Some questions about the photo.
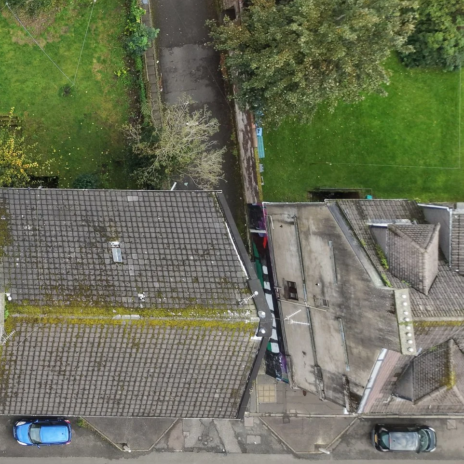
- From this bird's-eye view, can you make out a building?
Yes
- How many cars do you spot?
2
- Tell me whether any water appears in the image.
No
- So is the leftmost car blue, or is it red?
blue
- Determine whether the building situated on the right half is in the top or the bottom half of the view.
bottom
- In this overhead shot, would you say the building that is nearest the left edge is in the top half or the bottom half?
bottom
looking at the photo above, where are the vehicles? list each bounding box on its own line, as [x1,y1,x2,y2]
[369,422,432,457]
[13,418,71,450]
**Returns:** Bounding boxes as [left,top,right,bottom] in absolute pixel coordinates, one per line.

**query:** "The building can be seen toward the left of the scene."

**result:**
[0,187,272,422]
